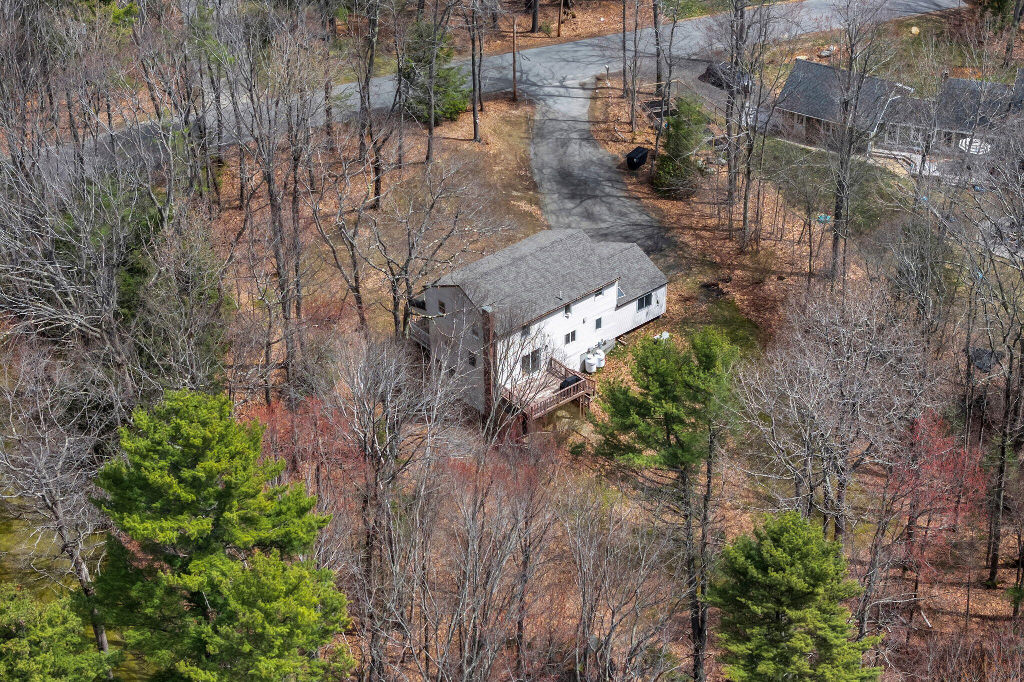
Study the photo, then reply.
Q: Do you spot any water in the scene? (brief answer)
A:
No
